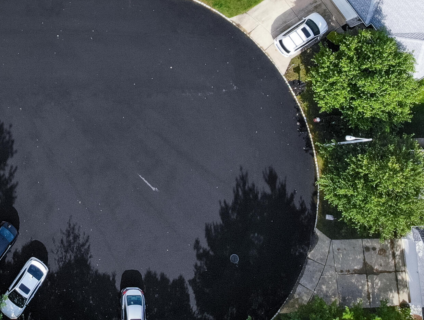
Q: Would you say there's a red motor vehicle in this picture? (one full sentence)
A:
No, the picture doesn't show any red motor vehicle.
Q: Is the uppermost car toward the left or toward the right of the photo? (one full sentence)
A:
It is on the right.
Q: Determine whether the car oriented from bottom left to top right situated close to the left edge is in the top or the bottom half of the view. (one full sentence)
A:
The bottom half of the photo is where the car oriented from bottom left to top right situated close to the left edge is.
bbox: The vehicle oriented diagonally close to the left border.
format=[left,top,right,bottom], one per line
[0,255,51,320]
